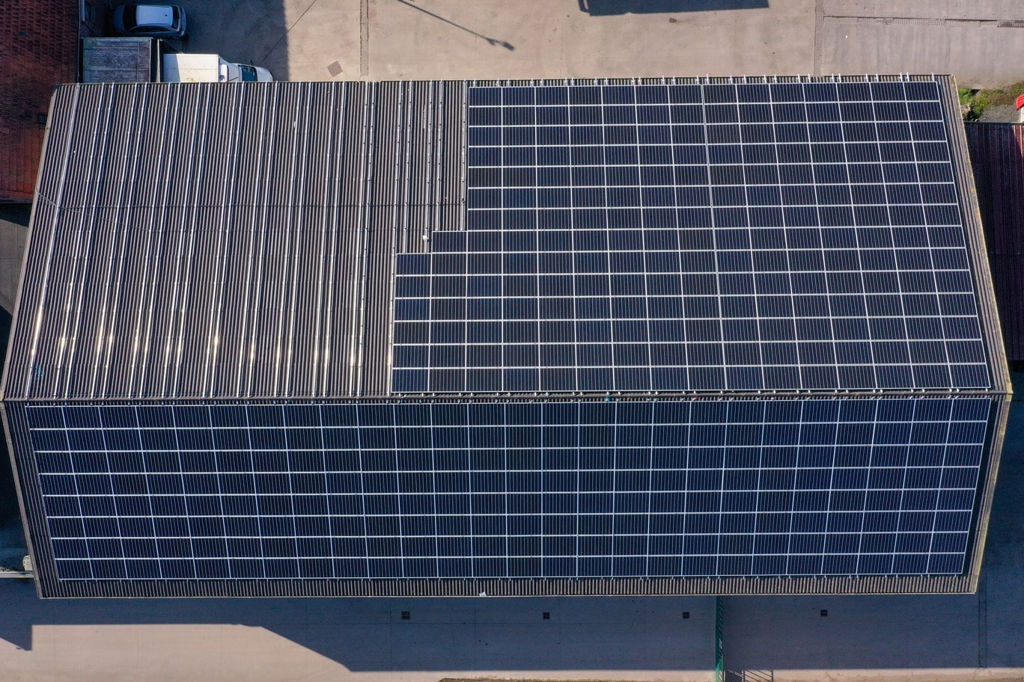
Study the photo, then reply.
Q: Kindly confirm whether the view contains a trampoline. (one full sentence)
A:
No, there is no trampoline in the image.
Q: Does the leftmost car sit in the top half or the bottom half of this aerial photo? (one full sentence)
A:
You can find the leftmost car in the top half.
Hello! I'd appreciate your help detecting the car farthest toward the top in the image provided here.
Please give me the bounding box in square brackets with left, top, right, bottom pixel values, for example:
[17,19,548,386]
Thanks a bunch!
[114,0,190,40]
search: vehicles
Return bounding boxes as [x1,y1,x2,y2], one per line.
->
[163,53,278,82]
[114,0,190,40]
